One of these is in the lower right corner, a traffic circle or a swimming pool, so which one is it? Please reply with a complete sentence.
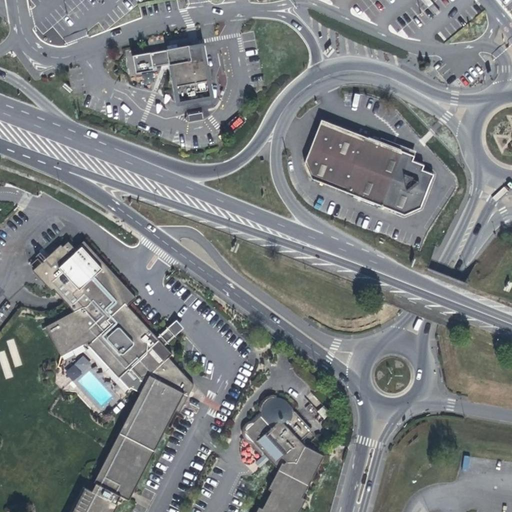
Visible in the lower right corner is a traffic circle.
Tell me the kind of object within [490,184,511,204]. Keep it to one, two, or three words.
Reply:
vehicle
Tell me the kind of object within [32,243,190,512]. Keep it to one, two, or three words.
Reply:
building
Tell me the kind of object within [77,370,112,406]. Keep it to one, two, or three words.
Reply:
swimming pool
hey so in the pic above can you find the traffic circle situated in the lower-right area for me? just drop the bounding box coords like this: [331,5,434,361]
[356,340,428,412]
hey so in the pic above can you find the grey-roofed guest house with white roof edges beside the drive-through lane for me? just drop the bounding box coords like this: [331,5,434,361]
[132,43,212,104]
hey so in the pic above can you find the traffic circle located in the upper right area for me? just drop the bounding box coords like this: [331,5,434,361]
[460,79,512,191]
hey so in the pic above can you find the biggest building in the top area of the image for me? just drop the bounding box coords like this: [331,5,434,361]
[304,120,438,218]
